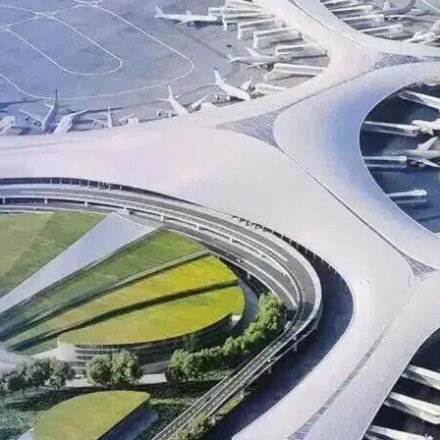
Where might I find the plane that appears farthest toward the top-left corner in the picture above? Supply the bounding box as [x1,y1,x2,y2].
[27,97,76,133]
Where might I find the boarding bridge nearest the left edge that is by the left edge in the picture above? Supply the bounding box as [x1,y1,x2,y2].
[0,118,16,136]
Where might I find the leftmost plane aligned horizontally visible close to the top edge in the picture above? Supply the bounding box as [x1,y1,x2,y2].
[156,6,222,23]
